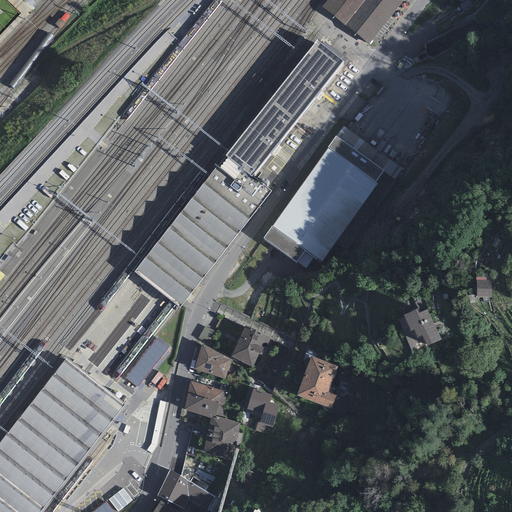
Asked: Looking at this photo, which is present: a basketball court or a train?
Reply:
train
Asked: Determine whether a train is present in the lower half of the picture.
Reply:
Yes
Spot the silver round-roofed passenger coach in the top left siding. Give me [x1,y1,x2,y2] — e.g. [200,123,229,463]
[8,32,56,89]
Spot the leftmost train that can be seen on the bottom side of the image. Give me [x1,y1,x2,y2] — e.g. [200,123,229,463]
[0,342,44,404]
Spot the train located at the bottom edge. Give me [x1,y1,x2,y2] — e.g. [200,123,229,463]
[43,456,93,512]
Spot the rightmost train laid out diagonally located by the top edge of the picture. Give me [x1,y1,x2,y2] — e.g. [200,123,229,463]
[118,0,222,124]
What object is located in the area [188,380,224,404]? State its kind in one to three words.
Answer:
house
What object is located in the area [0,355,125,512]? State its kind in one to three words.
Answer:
building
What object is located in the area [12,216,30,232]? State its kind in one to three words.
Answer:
vehicle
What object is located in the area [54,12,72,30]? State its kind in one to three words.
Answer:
rail car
